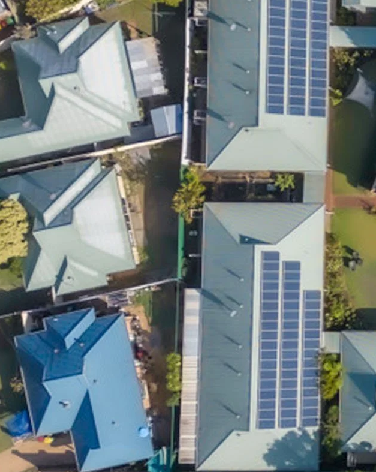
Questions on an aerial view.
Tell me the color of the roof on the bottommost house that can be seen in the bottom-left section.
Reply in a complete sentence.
From above, the roof of the bottommost house that can be seen in the bottom-left section looks blue.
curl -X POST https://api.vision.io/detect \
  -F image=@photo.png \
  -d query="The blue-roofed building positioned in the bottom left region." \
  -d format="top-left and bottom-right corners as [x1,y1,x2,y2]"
[15,308,157,472]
